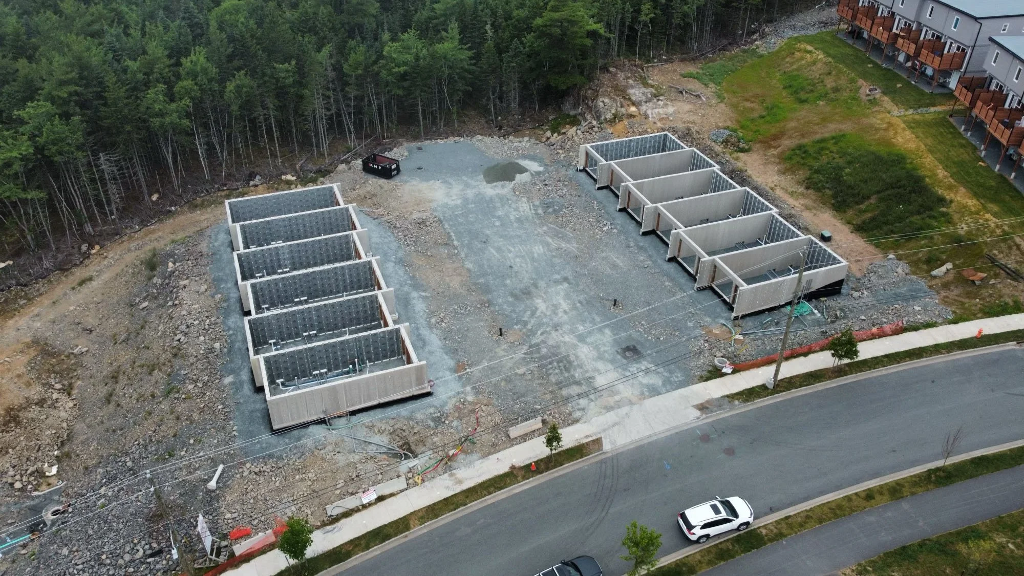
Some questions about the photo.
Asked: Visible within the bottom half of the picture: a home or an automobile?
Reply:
automobile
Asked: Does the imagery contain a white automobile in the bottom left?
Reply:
No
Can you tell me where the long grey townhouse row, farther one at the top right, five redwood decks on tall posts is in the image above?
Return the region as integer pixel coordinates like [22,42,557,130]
[834,0,1024,90]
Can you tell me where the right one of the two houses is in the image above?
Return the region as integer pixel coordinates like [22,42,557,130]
[937,38,1024,200]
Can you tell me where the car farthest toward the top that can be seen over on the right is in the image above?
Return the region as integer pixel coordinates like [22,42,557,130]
[681,499,755,544]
